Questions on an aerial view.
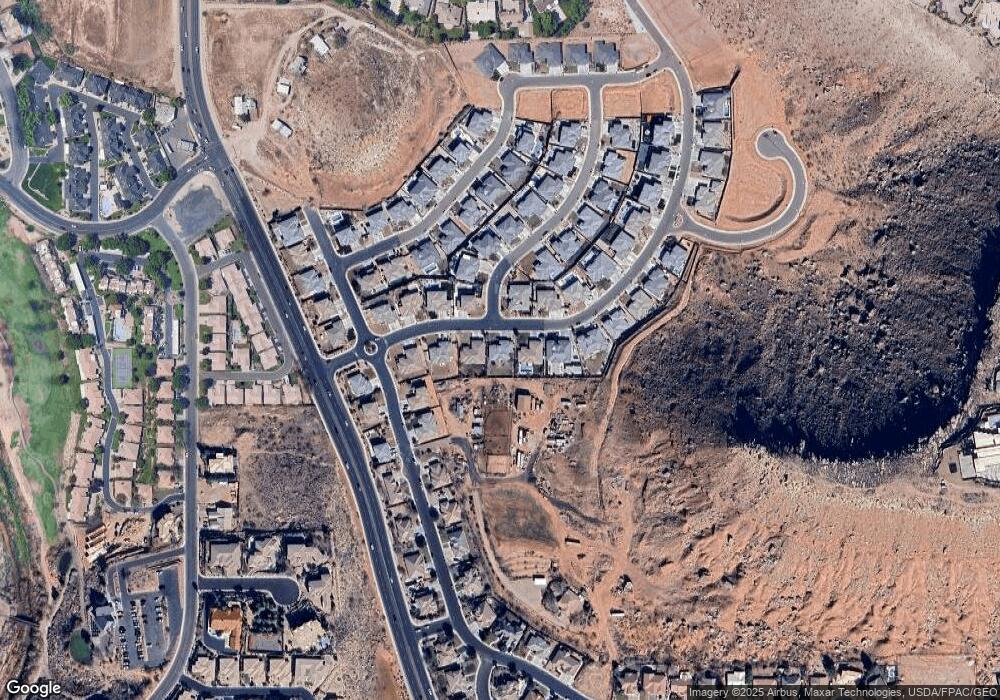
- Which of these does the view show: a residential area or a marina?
residential area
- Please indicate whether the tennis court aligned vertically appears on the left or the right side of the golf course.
on its right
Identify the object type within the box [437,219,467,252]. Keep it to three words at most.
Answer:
house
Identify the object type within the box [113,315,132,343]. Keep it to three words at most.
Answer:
swimming pool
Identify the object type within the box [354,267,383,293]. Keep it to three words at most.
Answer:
house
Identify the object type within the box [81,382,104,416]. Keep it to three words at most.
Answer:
building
